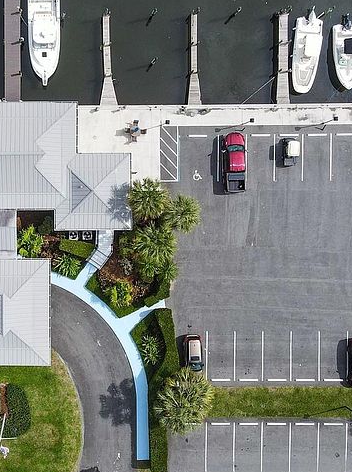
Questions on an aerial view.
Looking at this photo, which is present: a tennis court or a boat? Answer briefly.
boat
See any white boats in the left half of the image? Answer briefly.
Yes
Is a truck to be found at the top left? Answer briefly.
No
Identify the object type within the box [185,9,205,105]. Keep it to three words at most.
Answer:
pier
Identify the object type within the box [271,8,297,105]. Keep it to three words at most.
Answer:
pier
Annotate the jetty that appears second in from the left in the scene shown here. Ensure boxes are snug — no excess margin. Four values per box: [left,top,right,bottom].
[99,9,118,105]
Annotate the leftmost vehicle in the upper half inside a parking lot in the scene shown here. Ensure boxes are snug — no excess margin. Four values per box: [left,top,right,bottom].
[222,132,248,194]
